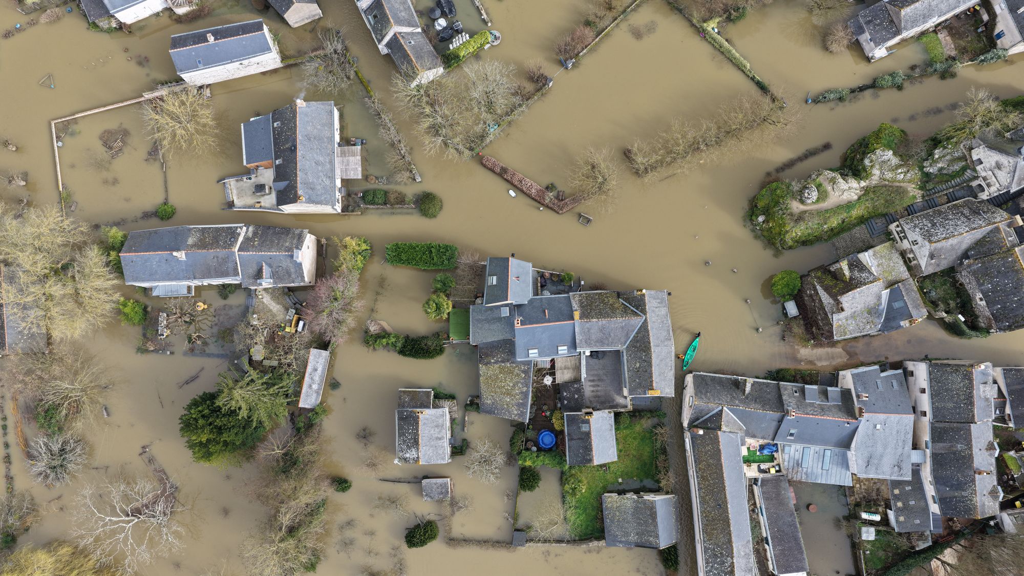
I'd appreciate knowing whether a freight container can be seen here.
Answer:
No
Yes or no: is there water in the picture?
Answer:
Yes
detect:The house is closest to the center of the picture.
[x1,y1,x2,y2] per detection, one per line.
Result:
[483,257,533,305]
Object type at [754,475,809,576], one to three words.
barn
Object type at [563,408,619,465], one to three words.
house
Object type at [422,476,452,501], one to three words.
shed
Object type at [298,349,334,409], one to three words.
shed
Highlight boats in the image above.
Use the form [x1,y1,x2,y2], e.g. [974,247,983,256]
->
[684,336,700,369]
